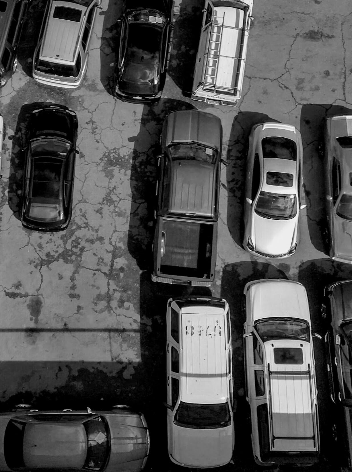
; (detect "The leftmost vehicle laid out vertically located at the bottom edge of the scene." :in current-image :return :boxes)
[166,299,238,469]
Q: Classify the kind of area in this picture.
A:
parking lot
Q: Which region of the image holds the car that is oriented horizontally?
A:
bottom left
